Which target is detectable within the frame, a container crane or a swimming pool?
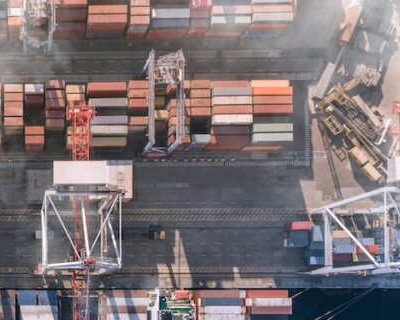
container crane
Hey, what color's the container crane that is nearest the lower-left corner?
white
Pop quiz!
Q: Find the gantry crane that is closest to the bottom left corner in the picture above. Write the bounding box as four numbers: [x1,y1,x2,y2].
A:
[27,101,130,320]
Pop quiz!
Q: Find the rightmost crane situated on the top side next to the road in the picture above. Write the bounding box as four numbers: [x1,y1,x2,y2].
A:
[136,49,185,156]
